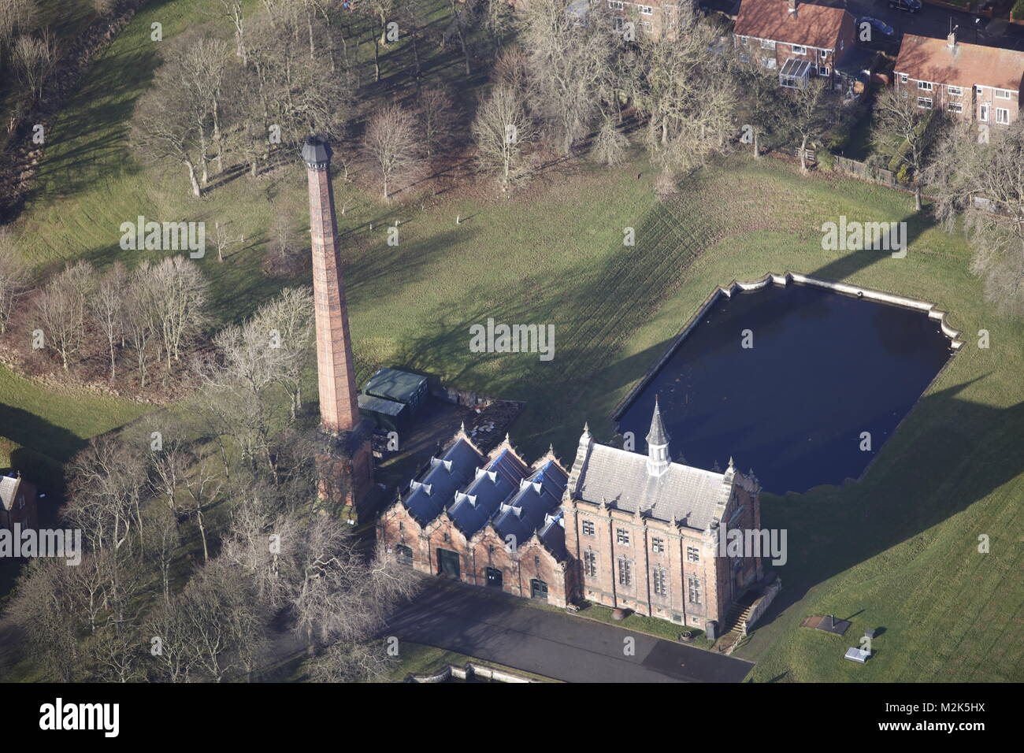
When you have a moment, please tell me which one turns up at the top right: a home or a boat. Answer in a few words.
home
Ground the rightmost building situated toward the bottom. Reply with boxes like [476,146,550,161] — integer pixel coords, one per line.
[561,391,762,636]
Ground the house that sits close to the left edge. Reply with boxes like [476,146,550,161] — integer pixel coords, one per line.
[0,461,41,545]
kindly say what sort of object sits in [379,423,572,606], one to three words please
building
